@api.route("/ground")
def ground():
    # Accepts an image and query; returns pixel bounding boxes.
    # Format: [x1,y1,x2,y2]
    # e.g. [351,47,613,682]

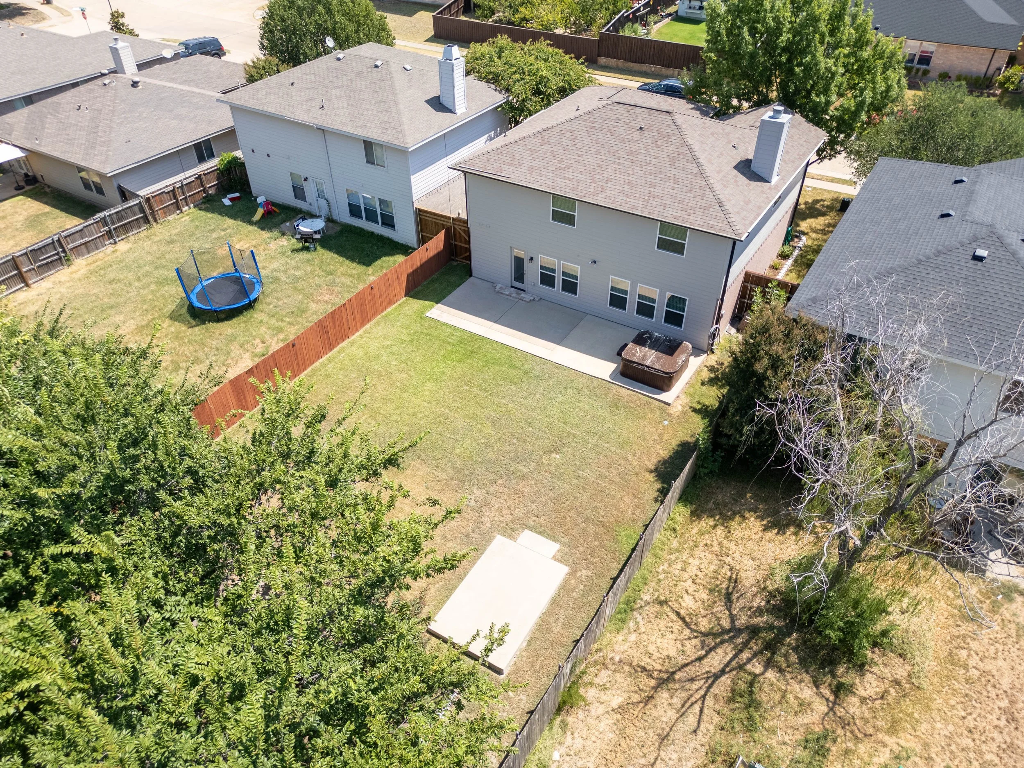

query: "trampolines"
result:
[177,242,268,328]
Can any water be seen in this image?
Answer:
No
